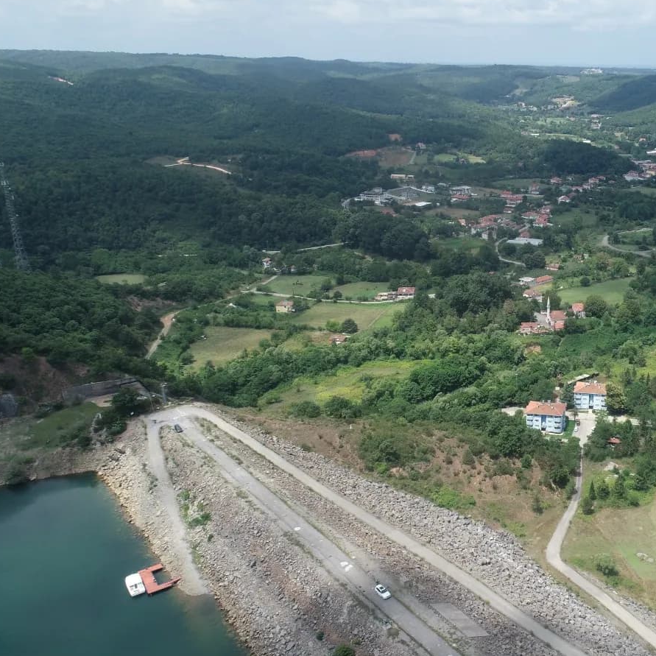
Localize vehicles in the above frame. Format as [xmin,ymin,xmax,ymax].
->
[174,421,183,432]
[372,581,392,600]
[575,418,581,424]
[573,424,580,430]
